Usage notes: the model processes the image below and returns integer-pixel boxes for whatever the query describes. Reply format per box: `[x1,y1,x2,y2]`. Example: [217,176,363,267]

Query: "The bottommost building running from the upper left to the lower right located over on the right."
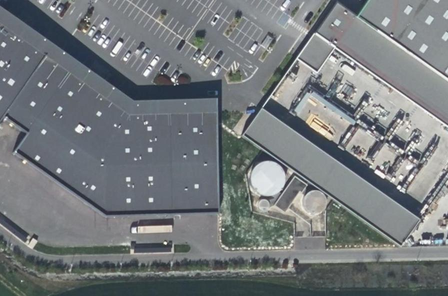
[244,109,420,245]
